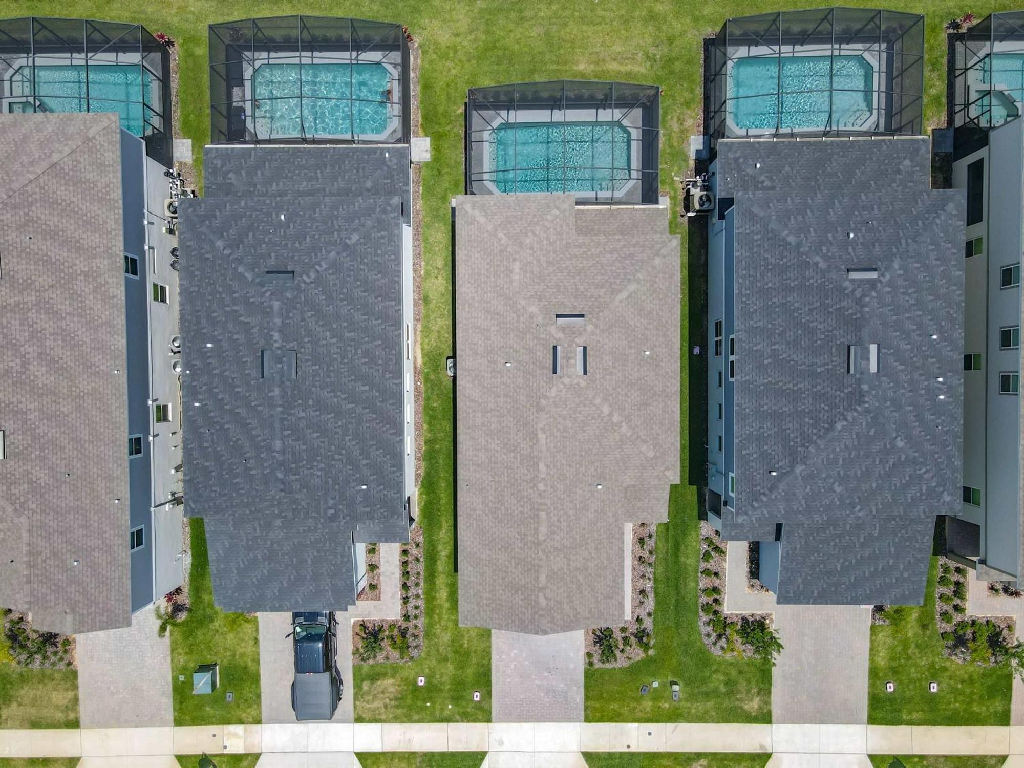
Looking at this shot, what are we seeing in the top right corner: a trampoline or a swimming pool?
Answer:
swimming pool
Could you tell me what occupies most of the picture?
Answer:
buildings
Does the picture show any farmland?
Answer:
No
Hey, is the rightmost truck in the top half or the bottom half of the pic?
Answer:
bottom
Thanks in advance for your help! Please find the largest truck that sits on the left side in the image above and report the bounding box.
[285,612,344,719]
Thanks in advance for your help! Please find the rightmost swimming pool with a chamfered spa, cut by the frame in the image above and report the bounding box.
[966,42,1024,134]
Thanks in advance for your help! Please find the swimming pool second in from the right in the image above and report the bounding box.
[728,45,880,133]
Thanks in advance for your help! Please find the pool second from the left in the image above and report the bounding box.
[245,53,398,139]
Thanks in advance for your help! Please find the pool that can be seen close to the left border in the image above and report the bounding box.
[0,53,159,140]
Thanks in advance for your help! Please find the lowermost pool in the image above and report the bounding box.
[482,110,638,198]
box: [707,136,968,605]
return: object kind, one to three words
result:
house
